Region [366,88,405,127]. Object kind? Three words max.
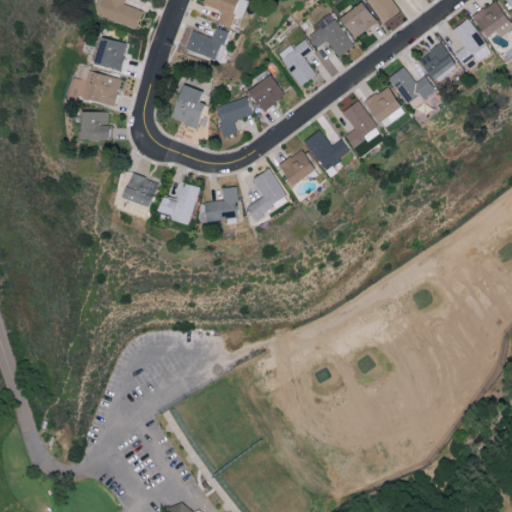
house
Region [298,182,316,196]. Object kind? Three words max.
swimming pool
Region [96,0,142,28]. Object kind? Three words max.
house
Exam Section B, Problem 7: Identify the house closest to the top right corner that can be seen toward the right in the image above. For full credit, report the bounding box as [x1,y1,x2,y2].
[474,2,512,37]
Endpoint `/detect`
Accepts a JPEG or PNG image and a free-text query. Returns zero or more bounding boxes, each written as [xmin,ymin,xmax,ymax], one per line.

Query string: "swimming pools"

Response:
[493,35,508,48]
[298,182,316,196]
